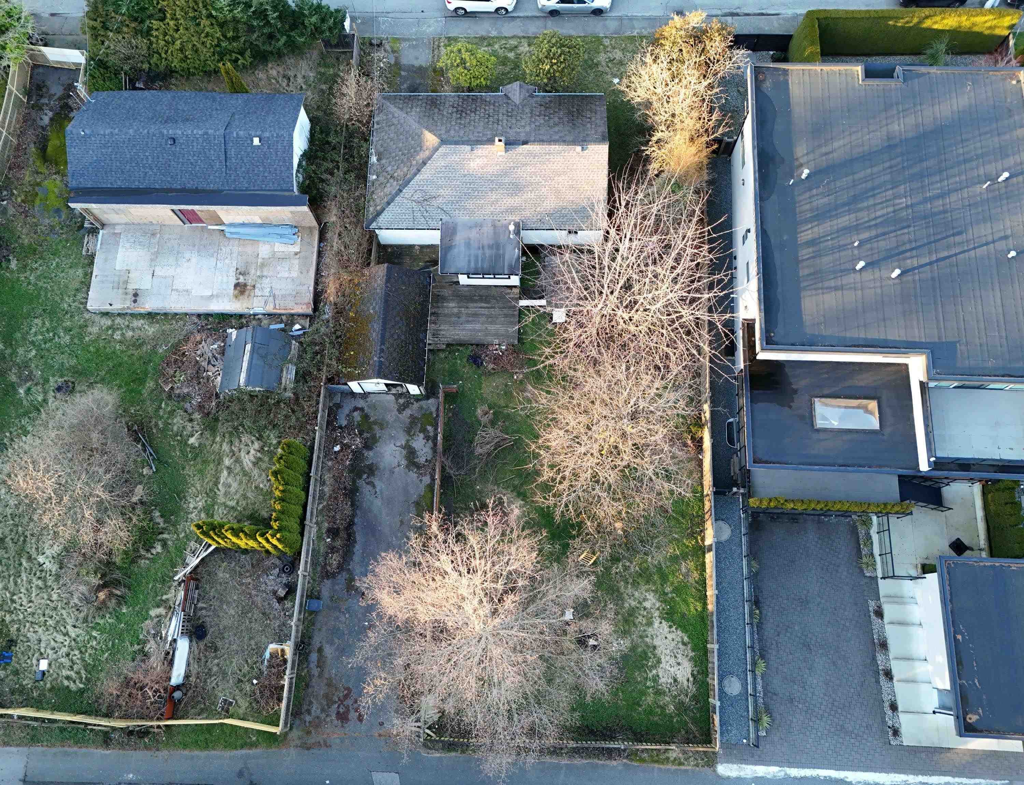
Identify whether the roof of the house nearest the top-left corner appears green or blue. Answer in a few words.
blue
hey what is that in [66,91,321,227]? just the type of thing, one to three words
house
